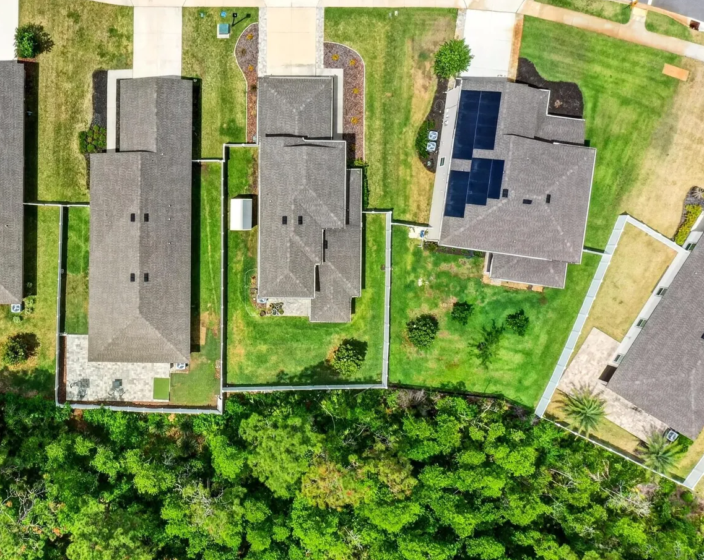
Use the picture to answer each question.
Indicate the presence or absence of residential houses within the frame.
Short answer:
Yes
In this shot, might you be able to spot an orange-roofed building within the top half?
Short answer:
No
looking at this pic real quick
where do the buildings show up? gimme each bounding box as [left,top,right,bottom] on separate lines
[257,77,362,323]
[0,62,24,303]
[426,79,597,289]
[231,199,252,231]
[596,210,704,440]
[88,77,192,364]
